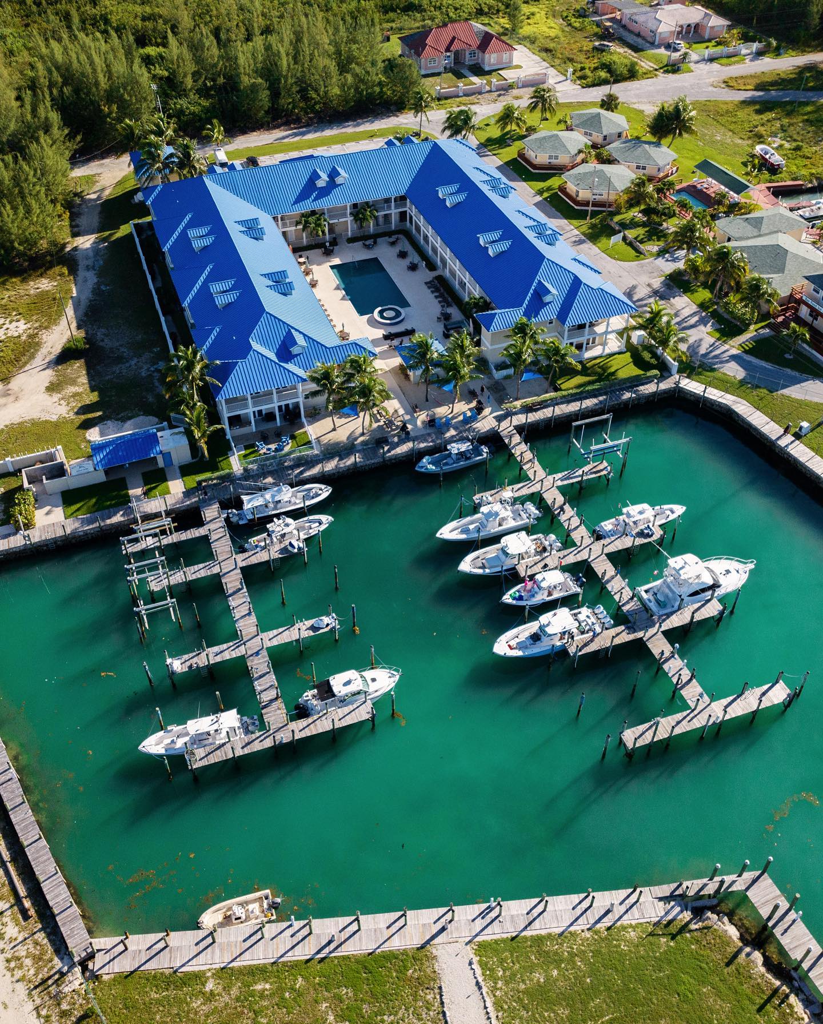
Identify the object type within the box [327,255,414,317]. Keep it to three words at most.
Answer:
swimming pool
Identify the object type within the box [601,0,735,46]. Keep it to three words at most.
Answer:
house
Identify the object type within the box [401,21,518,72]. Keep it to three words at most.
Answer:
house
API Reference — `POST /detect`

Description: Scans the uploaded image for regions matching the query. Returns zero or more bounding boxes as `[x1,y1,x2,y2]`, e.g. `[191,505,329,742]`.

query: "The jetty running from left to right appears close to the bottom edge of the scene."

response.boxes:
[93,870,762,975]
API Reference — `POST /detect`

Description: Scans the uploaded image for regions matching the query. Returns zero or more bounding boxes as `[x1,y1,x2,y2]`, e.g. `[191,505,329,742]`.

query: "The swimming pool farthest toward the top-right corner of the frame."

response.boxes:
[672,190,707,208]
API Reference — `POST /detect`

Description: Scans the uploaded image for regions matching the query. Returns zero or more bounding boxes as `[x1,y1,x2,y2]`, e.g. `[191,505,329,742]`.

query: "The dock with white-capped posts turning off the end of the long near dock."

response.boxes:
[742,868,823,1002]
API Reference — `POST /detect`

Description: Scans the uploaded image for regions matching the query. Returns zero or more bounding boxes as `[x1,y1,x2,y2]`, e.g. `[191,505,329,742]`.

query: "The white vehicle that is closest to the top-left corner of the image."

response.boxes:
[212,142,230,167]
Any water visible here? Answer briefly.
Yes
